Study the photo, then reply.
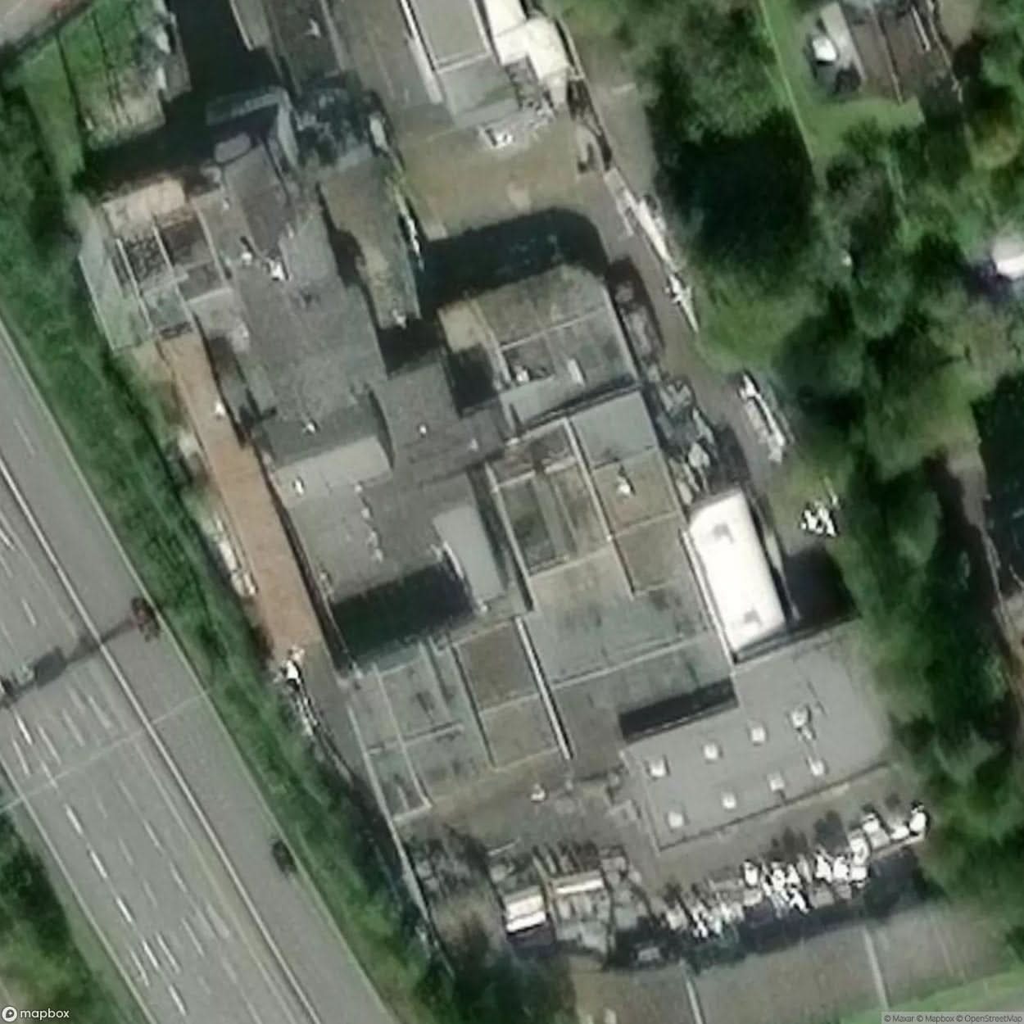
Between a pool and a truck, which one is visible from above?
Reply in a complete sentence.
I can see a truck in this picture.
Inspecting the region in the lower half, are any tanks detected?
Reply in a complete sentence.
No, no tank appears in the lower half.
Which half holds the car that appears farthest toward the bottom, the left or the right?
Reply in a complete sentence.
It is on the left.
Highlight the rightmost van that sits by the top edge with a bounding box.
[810,35,838,67]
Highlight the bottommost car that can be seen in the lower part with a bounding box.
[268,838,297,874]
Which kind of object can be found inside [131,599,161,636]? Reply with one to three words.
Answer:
car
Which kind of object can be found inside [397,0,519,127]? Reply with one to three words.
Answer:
building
